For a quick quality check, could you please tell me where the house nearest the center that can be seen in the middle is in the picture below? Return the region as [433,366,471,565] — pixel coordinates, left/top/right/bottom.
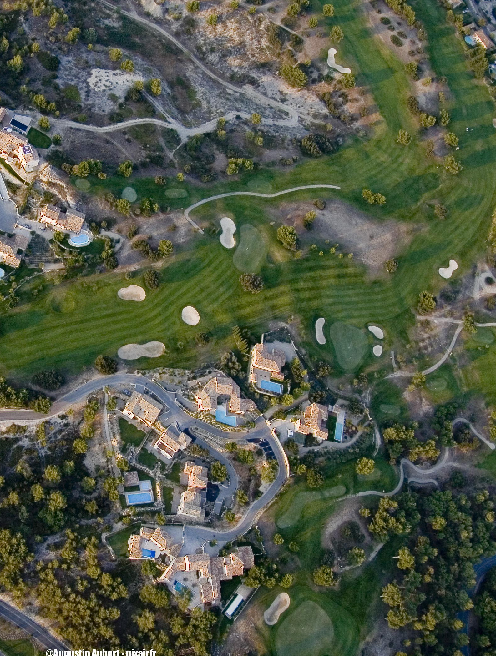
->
[251,342,286,383]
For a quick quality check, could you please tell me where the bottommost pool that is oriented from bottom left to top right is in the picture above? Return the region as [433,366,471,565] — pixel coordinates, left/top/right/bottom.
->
[224,594,245,618]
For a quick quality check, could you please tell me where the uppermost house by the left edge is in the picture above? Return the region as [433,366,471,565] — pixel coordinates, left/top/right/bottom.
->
[0,130,39,174]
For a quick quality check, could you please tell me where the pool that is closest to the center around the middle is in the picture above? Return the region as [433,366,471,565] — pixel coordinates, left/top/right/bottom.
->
[260,378,284,395]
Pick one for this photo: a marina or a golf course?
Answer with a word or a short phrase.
golf course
